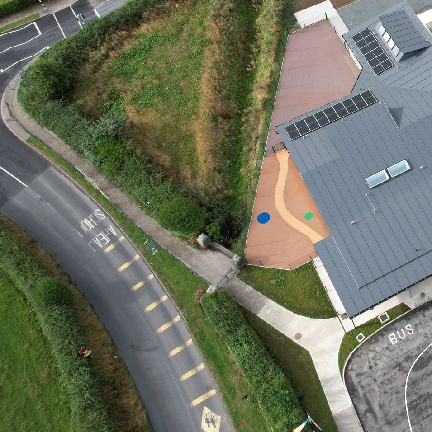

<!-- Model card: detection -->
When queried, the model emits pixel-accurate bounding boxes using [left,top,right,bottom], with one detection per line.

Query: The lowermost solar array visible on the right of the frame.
[285,89,378,140]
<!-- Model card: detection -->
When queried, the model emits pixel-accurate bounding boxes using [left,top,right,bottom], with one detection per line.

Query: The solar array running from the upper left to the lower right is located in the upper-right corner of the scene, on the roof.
[351,29,394,74]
